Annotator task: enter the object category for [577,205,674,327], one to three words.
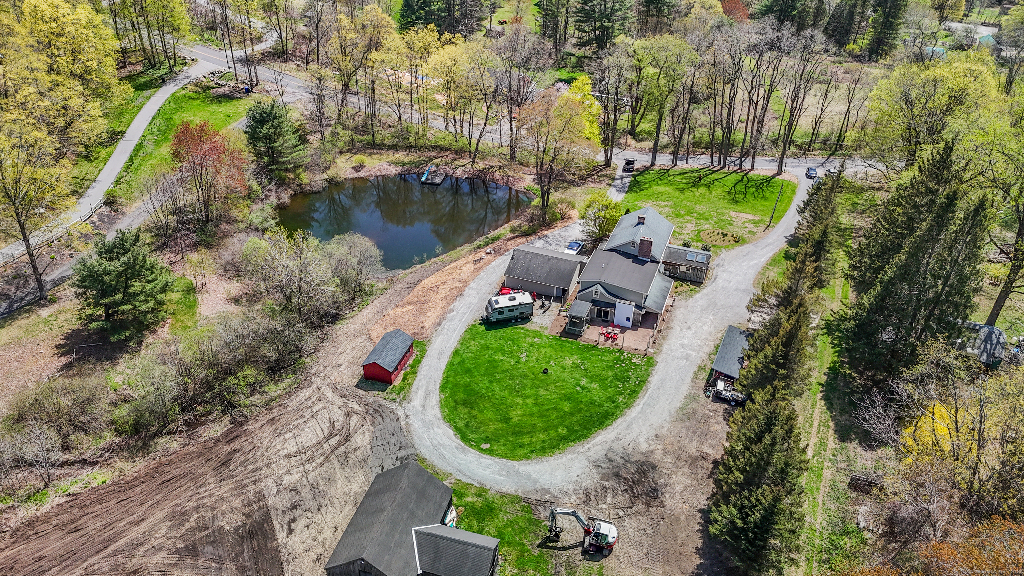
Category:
house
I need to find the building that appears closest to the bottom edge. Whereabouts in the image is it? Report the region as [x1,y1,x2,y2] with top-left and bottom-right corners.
[325,461,501,576]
